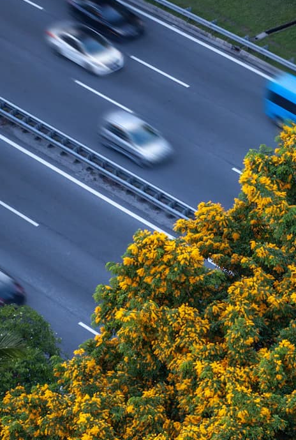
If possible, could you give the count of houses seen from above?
0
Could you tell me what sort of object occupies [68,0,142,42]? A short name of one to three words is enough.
car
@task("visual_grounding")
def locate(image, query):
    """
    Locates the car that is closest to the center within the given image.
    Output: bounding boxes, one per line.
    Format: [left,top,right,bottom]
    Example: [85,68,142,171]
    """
[99,112,170,167]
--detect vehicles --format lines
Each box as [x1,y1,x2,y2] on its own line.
[68,0,142,42]
[99,112,170,167]
[45,27,120,79]
[0,266,29,311]
[266,73,296,122]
